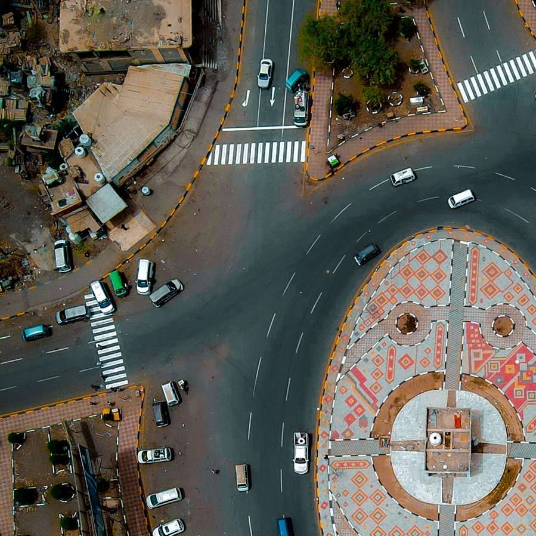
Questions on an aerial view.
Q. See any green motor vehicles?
Yes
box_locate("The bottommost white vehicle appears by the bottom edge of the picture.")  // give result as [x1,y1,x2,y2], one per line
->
[152,518,187,536]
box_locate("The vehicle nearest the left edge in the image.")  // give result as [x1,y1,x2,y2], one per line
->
[21,325,51,343]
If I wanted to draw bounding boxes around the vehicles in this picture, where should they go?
[284,67,308,94]
[292,432,309,475]
[235,463,249,492]
[53,240,72,273]
[161,380,180,407]
[352,242,382,266]
[152,518,187,536]
[278,516,294,536]
[152,399,170,426]
[56,304,92,324]
[138,446,174,462]
[88,279,115,315]
[292,90,309,128]
[107,269,128,297]
[134,257,153,295]
[445,187,476,209]
[148,279,185,307]
[146,487,184,507]
[258,58,273,91]
[21,325,51,343]
[387,166,419,187]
